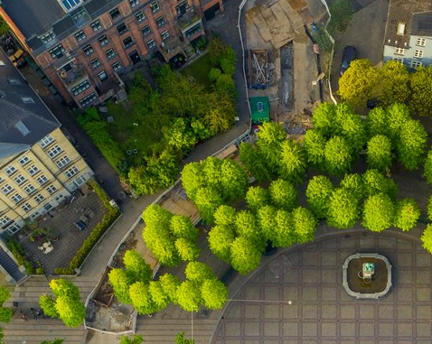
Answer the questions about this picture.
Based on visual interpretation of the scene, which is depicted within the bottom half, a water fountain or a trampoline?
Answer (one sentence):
There is a water fountain within the bottom half.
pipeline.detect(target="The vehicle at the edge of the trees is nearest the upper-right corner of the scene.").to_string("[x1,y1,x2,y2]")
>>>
[338,44,355,74]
